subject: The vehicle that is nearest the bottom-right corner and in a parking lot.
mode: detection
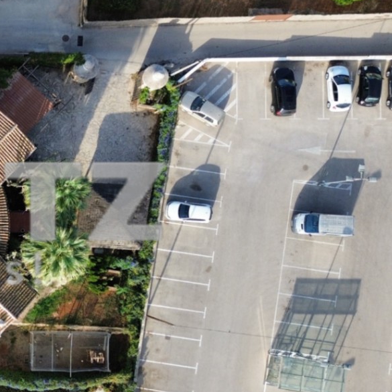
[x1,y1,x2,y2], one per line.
[284,210,355,237]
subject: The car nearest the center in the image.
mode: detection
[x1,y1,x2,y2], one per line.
[161,200,211,223]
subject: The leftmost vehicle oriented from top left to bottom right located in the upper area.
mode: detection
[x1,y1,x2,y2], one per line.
[176,91,226,130]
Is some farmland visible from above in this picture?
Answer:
No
